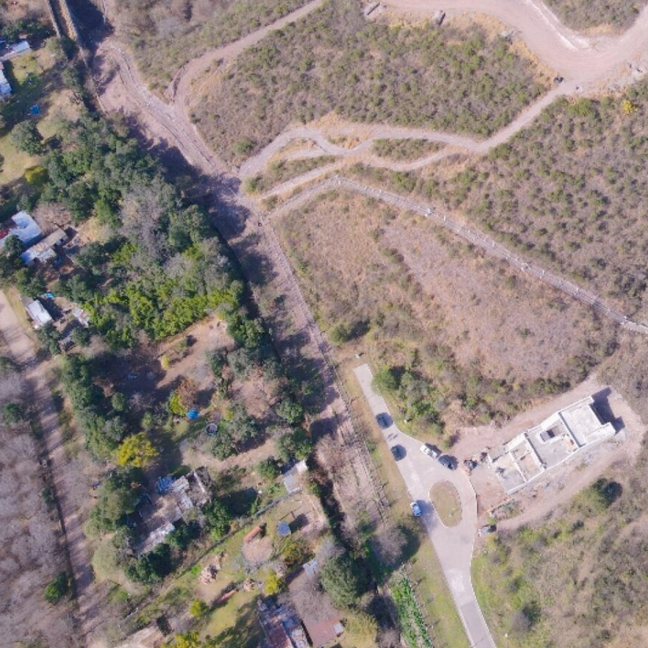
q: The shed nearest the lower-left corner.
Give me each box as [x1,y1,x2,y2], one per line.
[138,520,178,548]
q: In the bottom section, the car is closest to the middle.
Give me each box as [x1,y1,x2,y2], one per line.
[375,410,388,429]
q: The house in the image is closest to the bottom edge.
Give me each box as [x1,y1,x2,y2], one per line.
[259,600,310,648]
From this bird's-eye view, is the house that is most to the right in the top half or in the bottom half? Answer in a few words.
bottom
